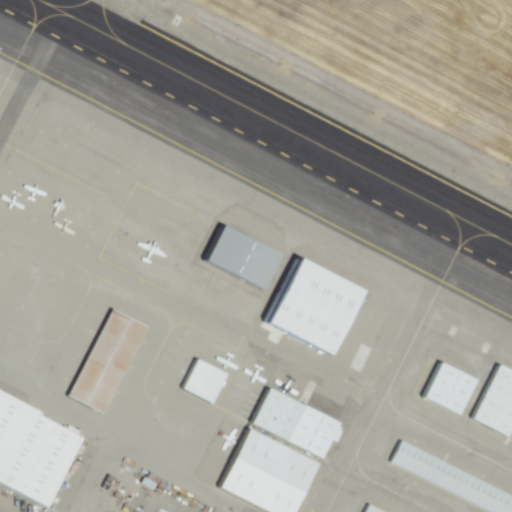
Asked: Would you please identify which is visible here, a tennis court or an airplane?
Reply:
airplane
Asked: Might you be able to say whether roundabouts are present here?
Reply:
No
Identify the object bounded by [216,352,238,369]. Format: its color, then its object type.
white airplane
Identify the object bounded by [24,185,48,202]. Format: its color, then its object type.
white airplane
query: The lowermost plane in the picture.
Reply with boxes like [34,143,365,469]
[223,428,238,450]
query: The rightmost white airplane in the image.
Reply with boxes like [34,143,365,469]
[277,376,299,394]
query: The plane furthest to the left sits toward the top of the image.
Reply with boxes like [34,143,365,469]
[2,191,26,208]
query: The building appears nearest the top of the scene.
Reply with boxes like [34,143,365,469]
[206,225,282,289]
